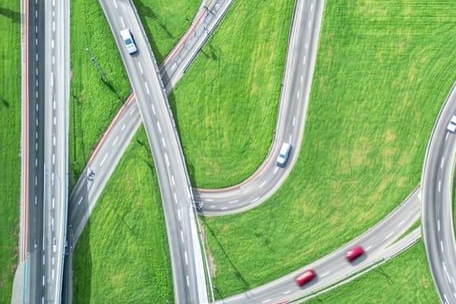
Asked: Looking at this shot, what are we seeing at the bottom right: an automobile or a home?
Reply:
automobile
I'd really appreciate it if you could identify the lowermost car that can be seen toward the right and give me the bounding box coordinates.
[293,267,319,286]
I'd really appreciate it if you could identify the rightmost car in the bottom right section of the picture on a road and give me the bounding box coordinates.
[343,245,367,264]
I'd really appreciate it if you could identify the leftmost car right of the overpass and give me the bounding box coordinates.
[275,142,293,167]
